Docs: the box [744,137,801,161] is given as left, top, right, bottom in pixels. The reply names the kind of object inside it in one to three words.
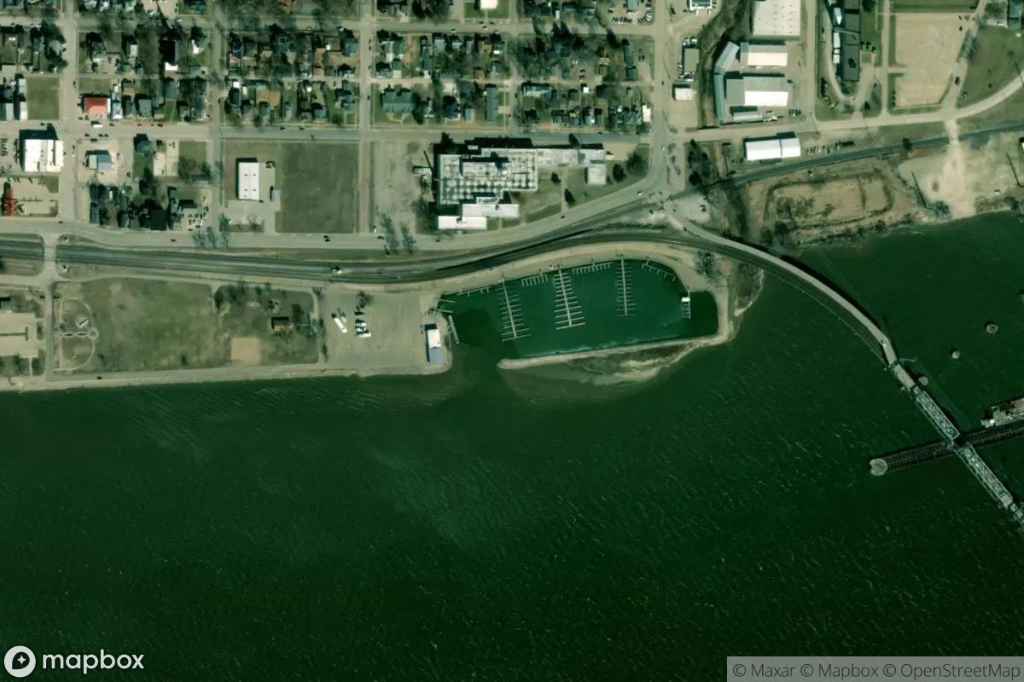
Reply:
building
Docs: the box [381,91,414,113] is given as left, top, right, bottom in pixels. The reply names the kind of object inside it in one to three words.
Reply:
house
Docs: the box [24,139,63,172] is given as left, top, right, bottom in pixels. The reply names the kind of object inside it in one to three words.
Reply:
building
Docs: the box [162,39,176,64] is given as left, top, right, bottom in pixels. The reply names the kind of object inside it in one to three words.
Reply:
house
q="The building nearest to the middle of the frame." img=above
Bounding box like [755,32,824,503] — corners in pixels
[427,329,444,367]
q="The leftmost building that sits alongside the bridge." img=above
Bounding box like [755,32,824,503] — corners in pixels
[438,145,606,204]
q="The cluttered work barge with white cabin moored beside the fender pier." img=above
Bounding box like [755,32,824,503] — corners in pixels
[981,398,1024,427]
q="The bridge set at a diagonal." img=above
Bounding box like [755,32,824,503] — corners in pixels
[670,211,1024,530]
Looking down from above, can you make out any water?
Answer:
Yes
